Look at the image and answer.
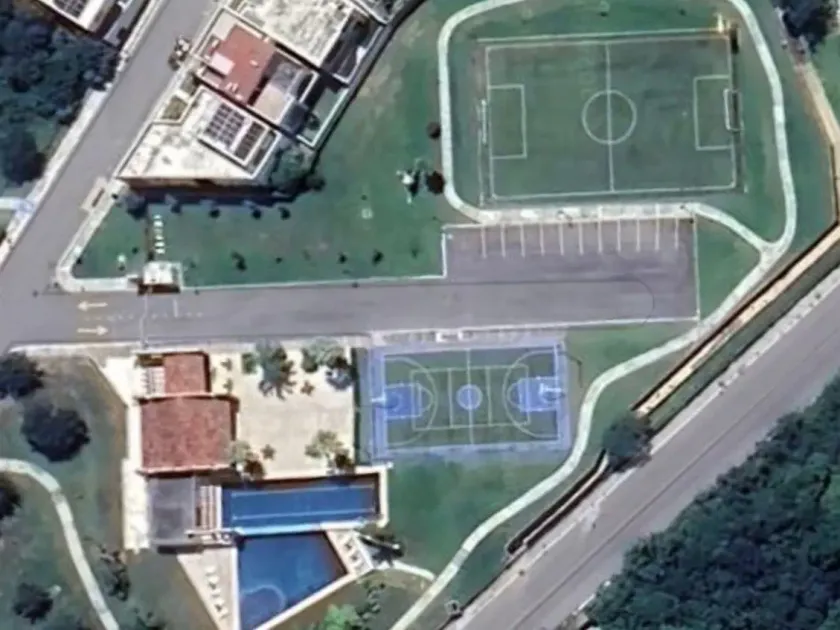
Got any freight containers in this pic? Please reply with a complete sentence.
No, there appears to be no freight container in this shot.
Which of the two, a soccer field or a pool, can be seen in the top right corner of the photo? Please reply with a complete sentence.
Looking in the top right corner of the photo, you will find a soccer field.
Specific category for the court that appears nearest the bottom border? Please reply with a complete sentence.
The court that appears nearest the bottom border in the image is a basketball court.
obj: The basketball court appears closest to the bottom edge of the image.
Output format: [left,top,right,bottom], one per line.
[368,338,572,463]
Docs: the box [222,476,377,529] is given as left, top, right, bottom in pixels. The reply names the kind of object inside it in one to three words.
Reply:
swimming pool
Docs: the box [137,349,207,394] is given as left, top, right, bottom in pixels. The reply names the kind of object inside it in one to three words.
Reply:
building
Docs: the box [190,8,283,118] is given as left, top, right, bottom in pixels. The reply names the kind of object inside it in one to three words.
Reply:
house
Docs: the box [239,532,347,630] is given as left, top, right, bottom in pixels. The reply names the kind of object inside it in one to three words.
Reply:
swimming pool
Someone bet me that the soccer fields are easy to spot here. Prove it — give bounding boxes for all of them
[478,30,743,206]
